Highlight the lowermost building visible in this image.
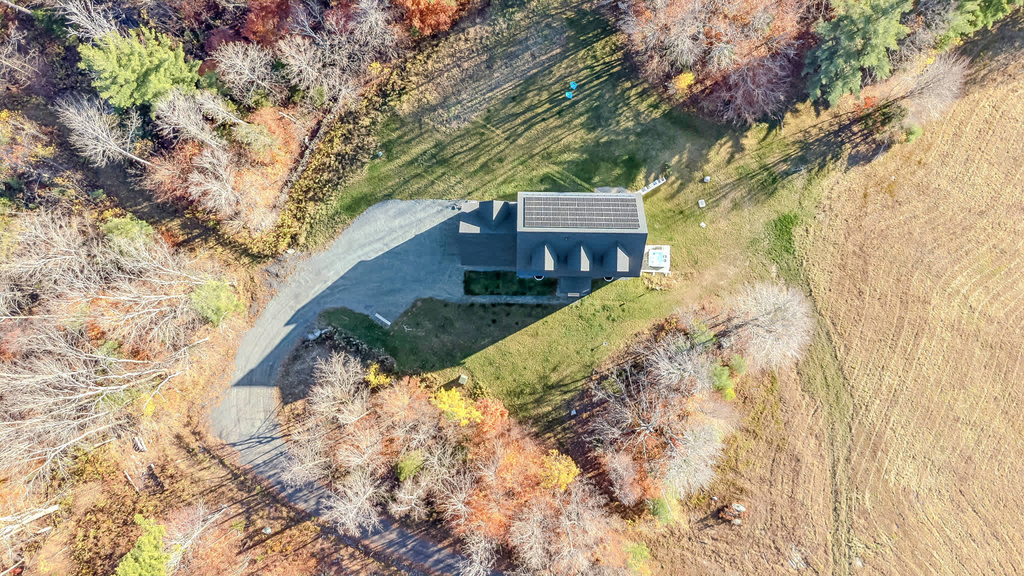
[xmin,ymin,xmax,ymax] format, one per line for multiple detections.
[459,192,648,298]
